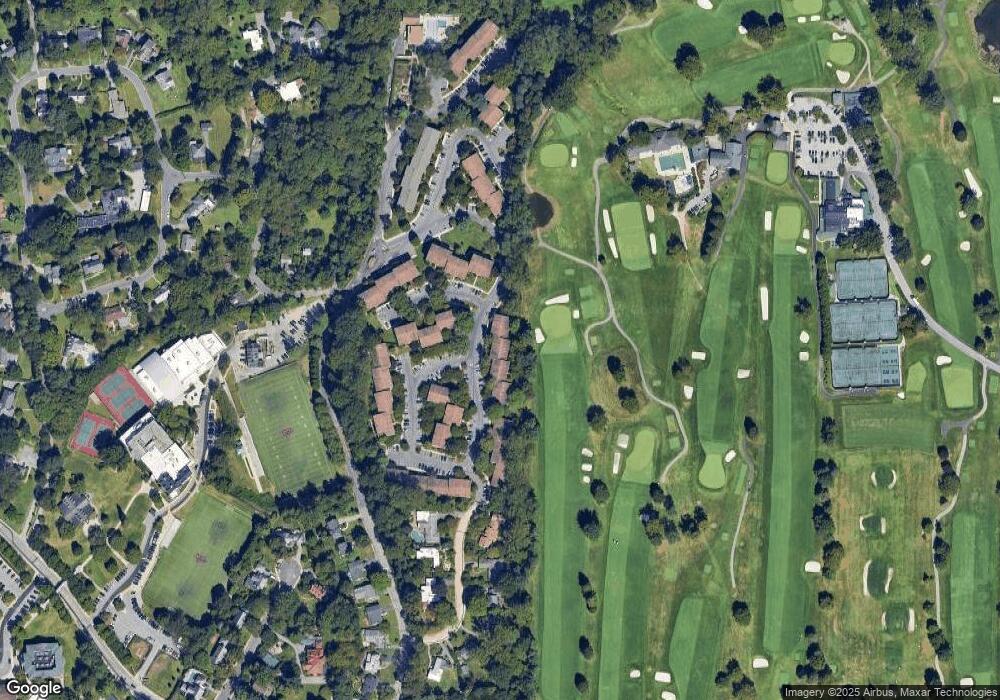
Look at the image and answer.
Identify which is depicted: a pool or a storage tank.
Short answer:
pool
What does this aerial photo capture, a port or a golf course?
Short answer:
golf course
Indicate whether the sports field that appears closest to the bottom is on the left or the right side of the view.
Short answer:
left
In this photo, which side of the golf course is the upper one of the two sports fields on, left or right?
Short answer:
to its left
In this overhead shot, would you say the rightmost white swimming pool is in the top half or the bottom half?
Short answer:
top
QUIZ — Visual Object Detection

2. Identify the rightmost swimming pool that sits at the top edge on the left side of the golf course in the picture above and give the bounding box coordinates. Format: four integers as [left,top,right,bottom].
[423,15,458,42]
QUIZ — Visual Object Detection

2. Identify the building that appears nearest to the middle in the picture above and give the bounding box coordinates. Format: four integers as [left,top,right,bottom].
[489,313,511,404]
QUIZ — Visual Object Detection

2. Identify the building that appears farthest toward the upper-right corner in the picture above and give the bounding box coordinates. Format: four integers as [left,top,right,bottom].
[833,92,862,112]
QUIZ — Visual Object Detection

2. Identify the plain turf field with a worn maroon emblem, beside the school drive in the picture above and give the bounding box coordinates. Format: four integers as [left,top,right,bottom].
[146,492,252,622]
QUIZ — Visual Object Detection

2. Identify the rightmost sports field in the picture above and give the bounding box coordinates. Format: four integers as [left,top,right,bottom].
[240,363,335,492]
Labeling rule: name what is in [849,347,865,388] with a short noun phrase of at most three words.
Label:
tennis court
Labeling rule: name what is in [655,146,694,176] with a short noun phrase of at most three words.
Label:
swimming pool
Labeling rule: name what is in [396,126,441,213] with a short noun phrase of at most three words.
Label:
building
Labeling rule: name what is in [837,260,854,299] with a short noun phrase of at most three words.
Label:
tennis court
